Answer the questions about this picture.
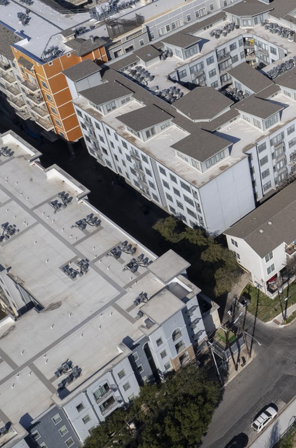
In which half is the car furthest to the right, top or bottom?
bottom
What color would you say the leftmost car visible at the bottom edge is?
black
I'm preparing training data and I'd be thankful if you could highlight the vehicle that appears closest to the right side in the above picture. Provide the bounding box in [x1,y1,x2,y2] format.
[248,400,284,439]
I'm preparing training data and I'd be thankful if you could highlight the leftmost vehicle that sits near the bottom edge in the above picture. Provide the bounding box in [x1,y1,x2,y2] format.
[223,425,255,448]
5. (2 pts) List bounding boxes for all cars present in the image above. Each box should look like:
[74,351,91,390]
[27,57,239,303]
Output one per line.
[223,425,255,448]
[248,400,284,439]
